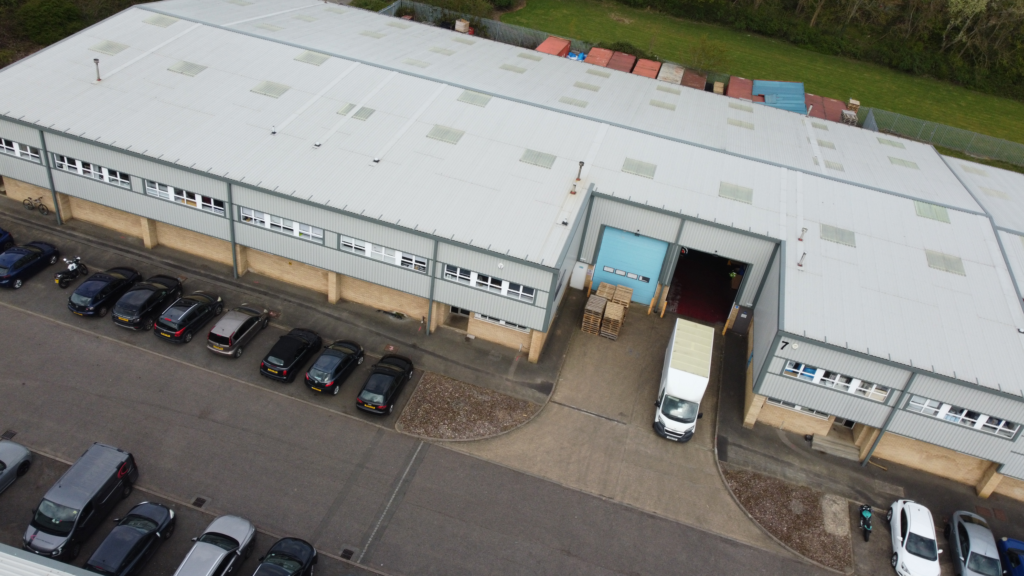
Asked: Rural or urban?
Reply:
urban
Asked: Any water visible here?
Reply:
No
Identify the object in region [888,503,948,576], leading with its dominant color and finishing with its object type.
white car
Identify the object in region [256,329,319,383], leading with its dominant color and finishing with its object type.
black car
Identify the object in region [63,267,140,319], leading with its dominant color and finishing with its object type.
black car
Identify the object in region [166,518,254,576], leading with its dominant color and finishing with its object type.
gray car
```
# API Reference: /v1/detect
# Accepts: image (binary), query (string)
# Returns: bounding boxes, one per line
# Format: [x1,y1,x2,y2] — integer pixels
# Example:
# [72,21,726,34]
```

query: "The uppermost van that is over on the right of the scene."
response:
[650,317,716,439]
